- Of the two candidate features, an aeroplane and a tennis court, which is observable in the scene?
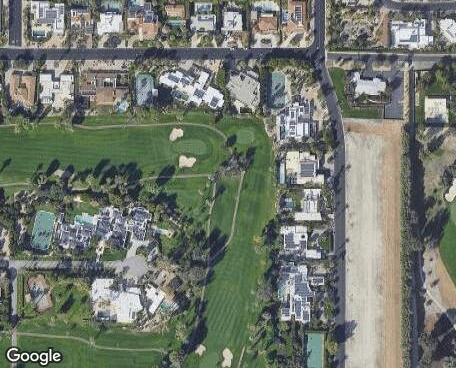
tennis court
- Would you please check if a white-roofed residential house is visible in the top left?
Yes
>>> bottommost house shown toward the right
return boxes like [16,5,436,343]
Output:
[279,265,324,324]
